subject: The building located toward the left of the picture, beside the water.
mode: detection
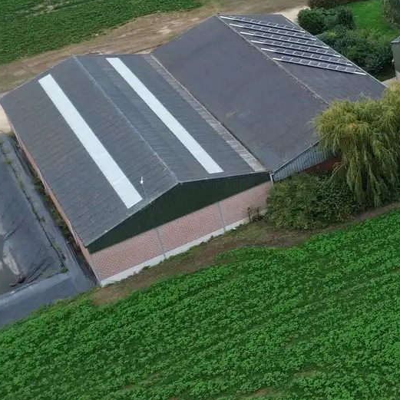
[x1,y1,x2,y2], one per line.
[1,53,279,288]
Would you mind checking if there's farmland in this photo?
Yes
